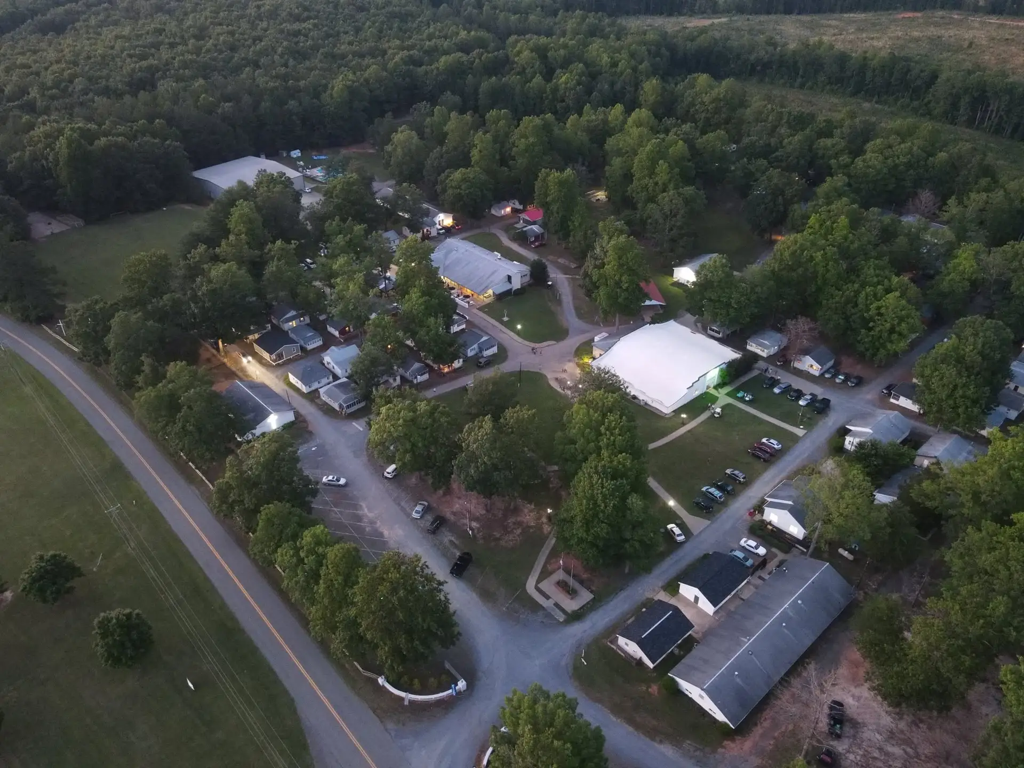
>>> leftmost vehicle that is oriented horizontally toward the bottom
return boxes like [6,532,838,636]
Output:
[321,475,348,487]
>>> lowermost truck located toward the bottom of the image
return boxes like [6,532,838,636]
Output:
[814,738,842,768]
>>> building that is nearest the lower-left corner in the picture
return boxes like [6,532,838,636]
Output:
[225,376,296,433]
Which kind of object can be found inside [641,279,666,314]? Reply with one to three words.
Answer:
building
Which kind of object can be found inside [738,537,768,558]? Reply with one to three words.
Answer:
car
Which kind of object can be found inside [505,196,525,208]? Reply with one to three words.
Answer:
vehicle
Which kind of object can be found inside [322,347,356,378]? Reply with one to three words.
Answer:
house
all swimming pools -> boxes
[302,165,331,183]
